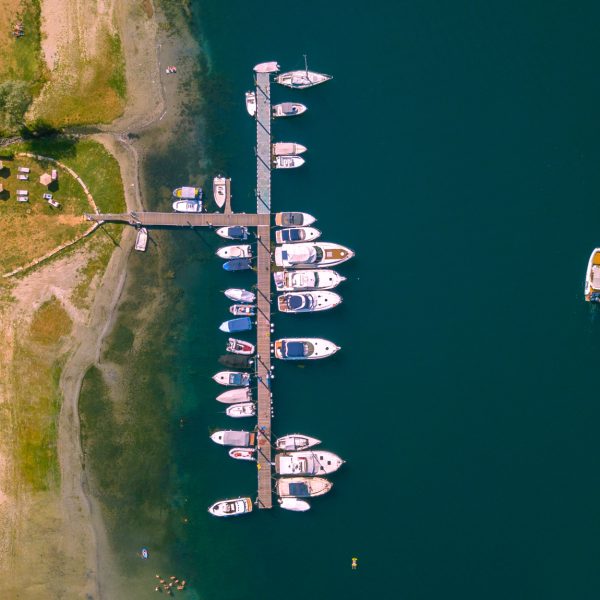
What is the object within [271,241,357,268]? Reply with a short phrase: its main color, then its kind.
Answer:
white boat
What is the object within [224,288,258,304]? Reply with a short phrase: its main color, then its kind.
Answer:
white boat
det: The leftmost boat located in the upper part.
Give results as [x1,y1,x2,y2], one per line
[134,228,146,251]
